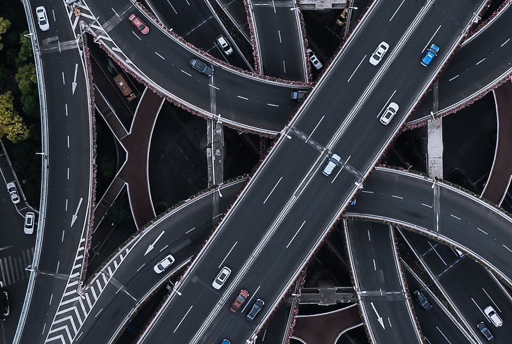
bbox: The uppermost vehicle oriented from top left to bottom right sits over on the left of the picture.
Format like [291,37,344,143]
[128,10,151,35]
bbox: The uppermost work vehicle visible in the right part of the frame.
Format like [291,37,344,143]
[335,10,347,27]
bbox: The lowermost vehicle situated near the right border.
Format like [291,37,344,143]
[476,319,496,344]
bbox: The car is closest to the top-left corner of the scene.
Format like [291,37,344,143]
[36,3,50,31]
